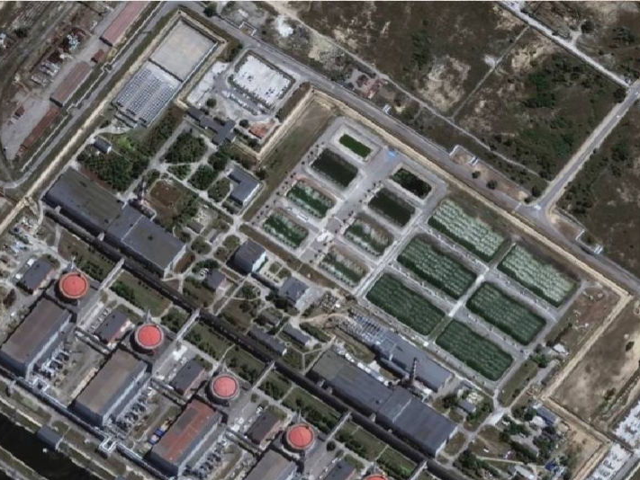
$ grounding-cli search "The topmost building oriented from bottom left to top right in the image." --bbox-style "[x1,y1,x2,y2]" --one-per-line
[99,0,147,47]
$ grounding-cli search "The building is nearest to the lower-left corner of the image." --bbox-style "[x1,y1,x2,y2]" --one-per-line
[34,425,70,453]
